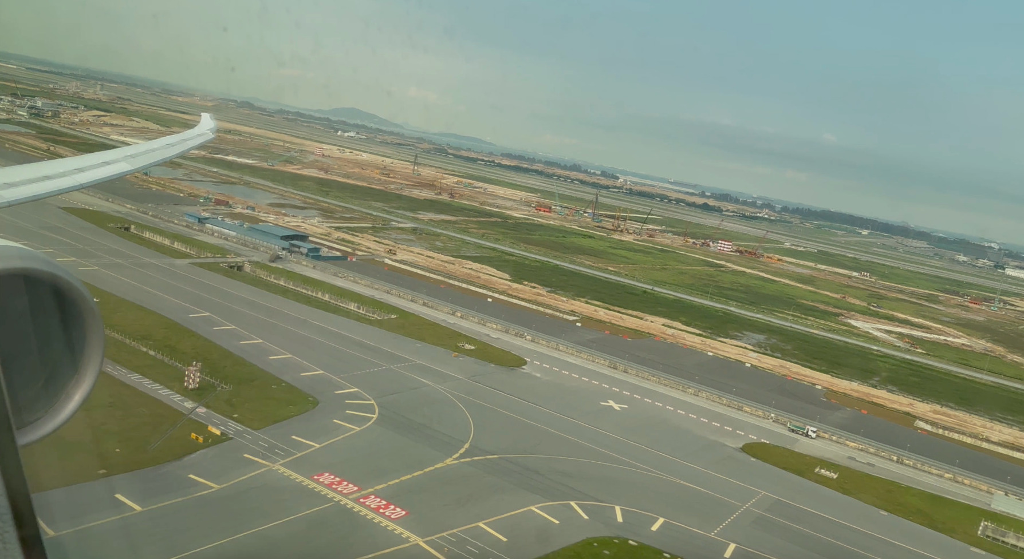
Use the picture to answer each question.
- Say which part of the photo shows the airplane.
left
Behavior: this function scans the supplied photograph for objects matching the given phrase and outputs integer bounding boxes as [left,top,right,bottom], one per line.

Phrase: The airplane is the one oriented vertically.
[0,113,216,559]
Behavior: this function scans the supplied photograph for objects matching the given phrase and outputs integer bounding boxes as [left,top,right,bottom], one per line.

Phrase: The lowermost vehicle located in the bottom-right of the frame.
[789,423,819,441]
